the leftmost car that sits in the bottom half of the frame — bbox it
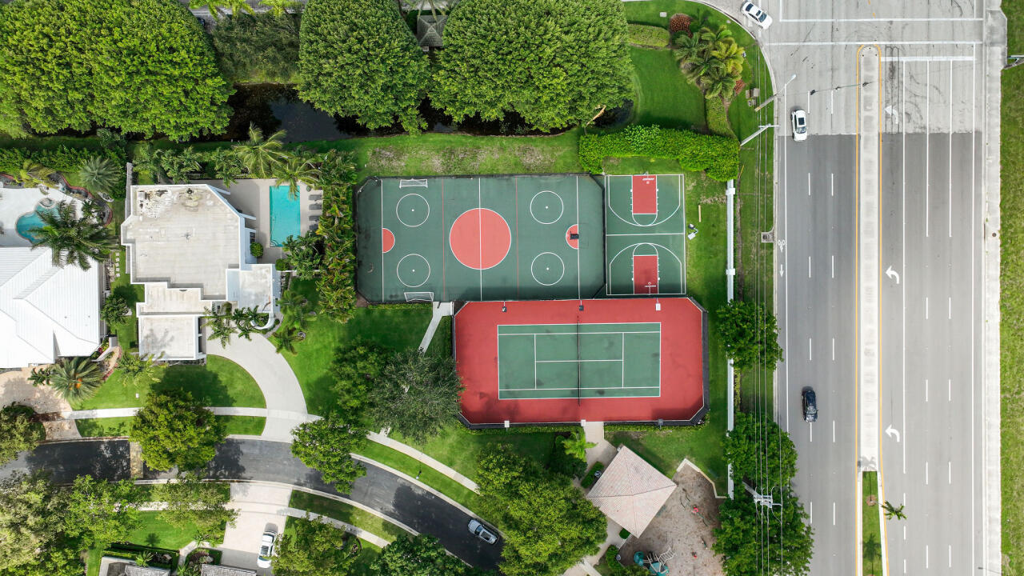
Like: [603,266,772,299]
[256,532,276,566]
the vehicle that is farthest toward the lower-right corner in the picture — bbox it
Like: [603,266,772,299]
[802,390,820,422]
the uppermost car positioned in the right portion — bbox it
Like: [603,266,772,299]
[742,0,773,26]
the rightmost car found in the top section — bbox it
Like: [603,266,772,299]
[790,109,808,141]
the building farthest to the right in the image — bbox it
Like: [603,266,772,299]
[589,446,677,538]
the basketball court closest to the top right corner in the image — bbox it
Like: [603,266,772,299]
[605,174,687,297]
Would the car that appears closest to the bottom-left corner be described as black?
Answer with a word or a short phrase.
No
